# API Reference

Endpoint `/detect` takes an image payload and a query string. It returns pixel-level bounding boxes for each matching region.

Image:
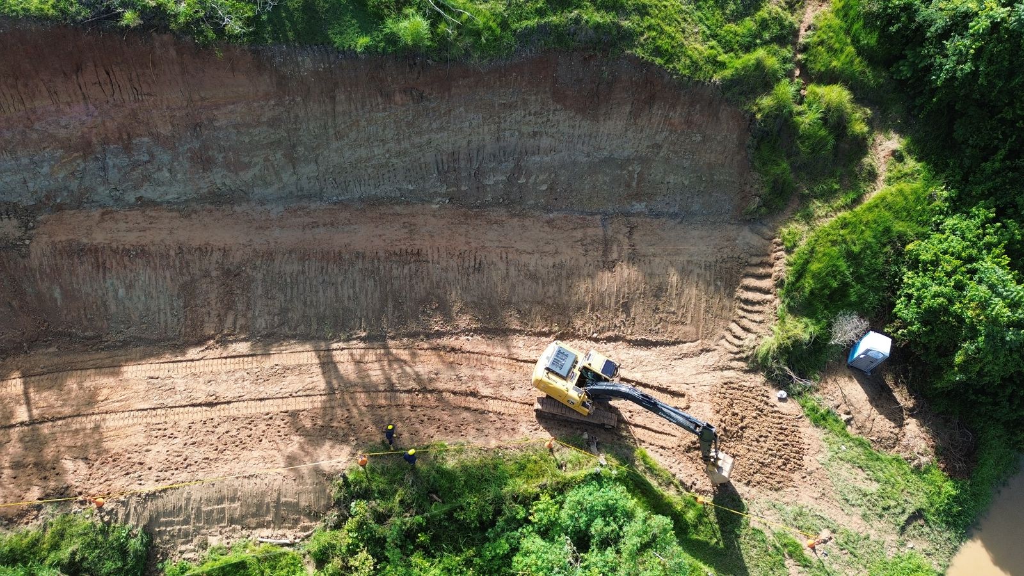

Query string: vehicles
[531,343,734,487]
